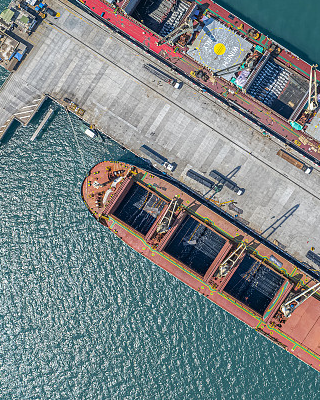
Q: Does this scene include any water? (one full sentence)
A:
Yes, some water is visible.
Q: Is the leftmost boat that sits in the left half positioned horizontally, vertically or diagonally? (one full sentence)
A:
In this picture, the leftmost boat that sits in the left half lies diagonally.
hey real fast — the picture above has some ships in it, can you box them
[81,161,320,373]
[76,0,320,163]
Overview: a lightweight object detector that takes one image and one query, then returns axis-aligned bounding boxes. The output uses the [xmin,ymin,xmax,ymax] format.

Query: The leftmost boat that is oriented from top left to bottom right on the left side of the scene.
[80,123,105,145]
